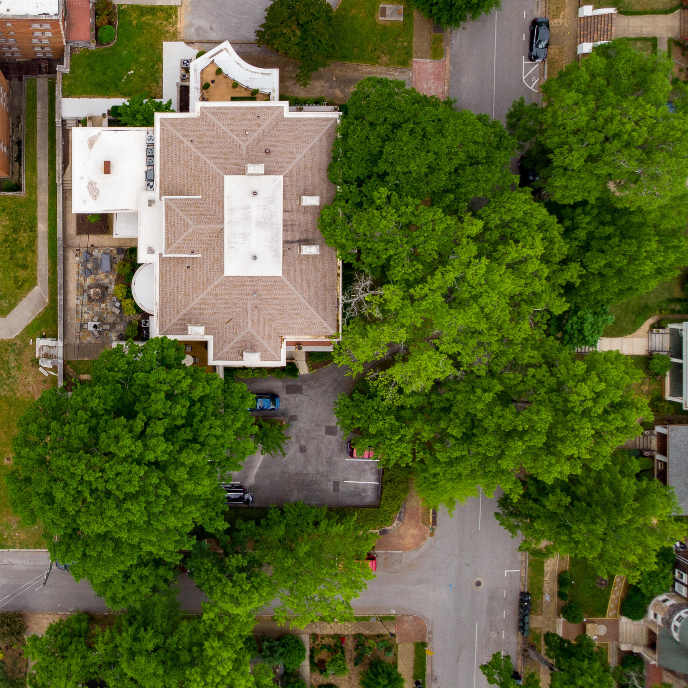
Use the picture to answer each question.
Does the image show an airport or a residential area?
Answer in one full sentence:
The area seen from above is a residential area.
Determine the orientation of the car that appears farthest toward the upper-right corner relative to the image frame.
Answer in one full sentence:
Seen from above, the car that appears farthest toward the upper-right corner lies from top to bottom.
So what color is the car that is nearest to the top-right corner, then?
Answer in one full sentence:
The car that is nearest to the top-right corner looks black in the image.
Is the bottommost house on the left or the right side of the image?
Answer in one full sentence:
You can find the bottommost house on the right side of the picture.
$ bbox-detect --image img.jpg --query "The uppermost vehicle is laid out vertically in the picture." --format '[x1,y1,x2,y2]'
[527,17,549,62]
